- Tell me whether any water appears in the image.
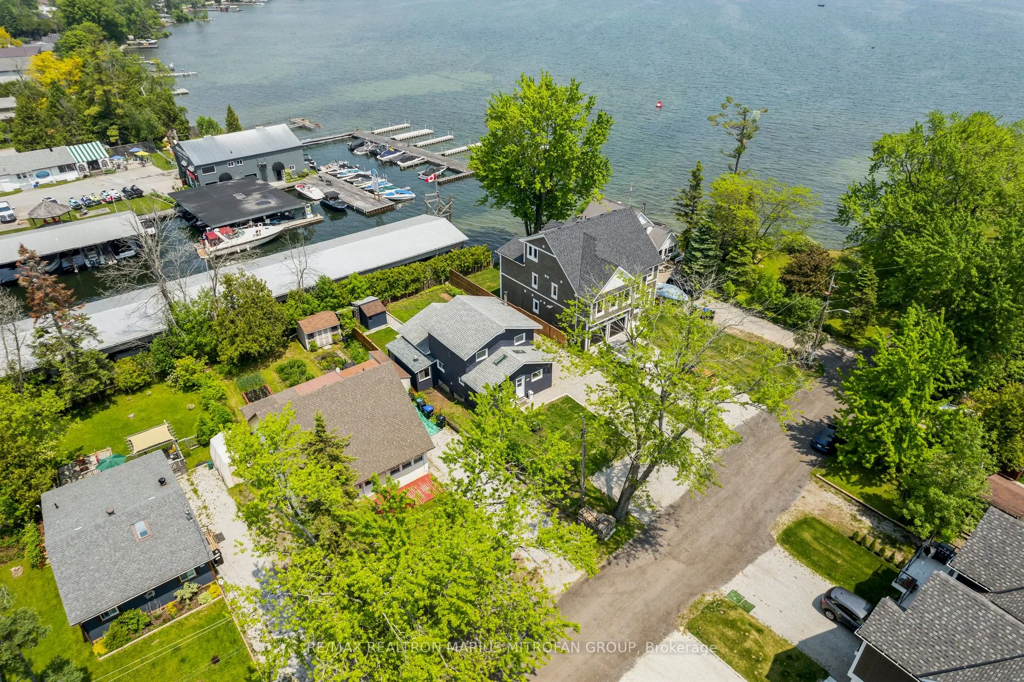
Yes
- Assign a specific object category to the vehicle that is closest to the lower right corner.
automobile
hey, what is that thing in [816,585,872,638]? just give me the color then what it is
gray car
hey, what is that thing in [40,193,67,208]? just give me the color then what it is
white car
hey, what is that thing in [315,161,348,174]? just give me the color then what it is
white boat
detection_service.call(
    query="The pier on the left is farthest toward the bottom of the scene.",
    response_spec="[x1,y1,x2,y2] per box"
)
[193,214,328,255]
